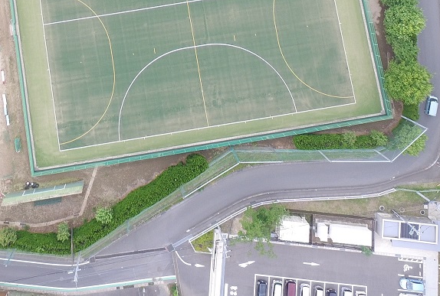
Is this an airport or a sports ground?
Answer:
sports ground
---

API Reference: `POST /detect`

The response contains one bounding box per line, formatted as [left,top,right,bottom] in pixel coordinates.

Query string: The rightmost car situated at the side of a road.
[425,96,440,116]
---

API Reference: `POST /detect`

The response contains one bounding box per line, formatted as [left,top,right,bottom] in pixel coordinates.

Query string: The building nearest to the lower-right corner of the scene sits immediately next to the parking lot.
[377,212,440,249]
